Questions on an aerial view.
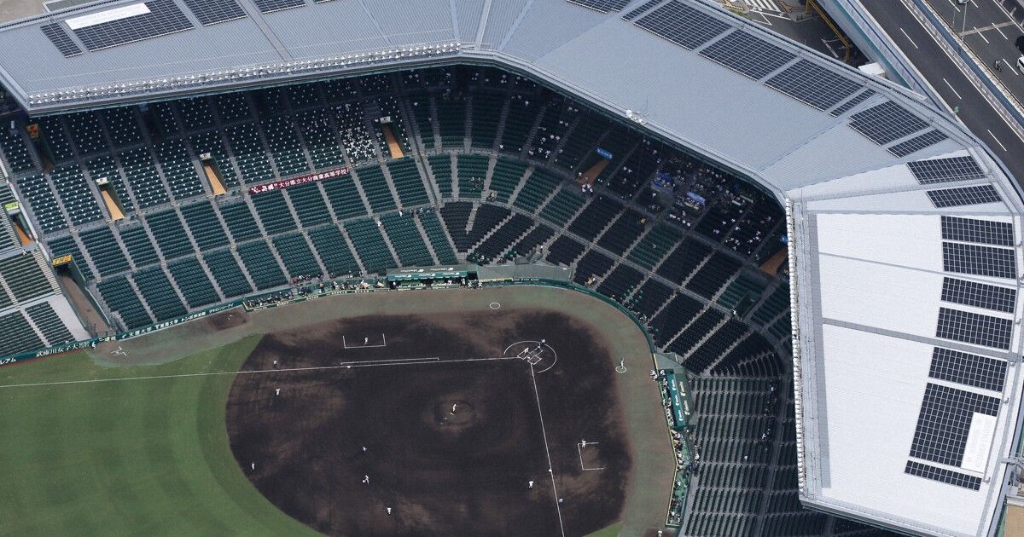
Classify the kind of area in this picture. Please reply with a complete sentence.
The picture captures a sports ground.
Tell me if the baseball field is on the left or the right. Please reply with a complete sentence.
The baseball field appears in the left half of the scene.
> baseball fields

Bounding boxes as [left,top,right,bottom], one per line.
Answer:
[0,281,689,537]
